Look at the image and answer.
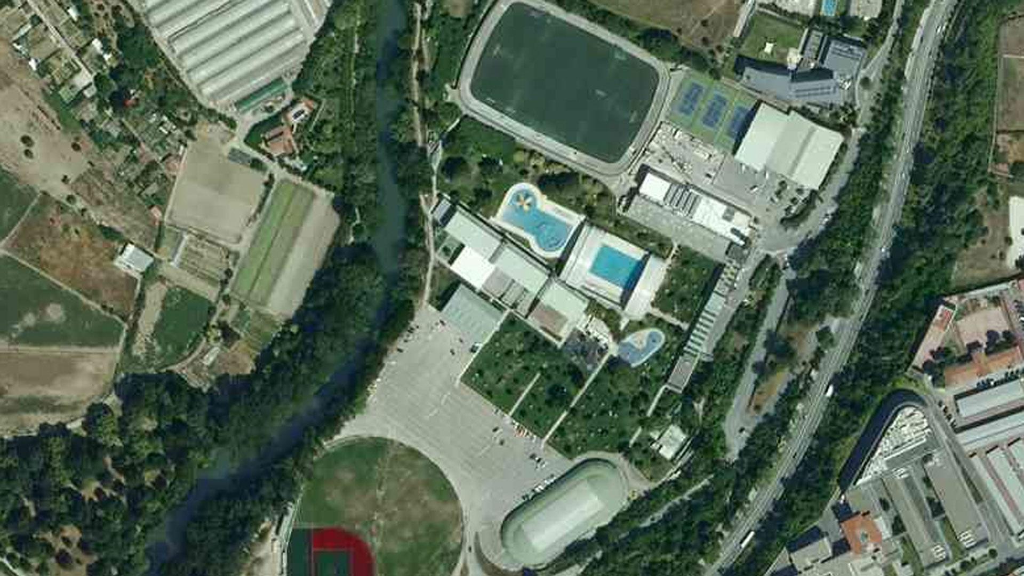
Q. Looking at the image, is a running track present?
Yes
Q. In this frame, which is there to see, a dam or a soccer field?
soccer field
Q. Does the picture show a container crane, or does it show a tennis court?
tennis court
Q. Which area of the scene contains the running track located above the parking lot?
top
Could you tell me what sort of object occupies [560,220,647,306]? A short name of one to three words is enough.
swimming pool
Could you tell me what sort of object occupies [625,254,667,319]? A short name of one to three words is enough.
building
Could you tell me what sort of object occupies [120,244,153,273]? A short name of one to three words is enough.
barn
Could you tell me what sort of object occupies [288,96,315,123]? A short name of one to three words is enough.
house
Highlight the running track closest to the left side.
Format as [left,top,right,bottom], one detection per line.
[313,527,376,576]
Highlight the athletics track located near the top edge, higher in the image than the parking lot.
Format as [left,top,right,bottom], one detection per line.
[458,0,670,176]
